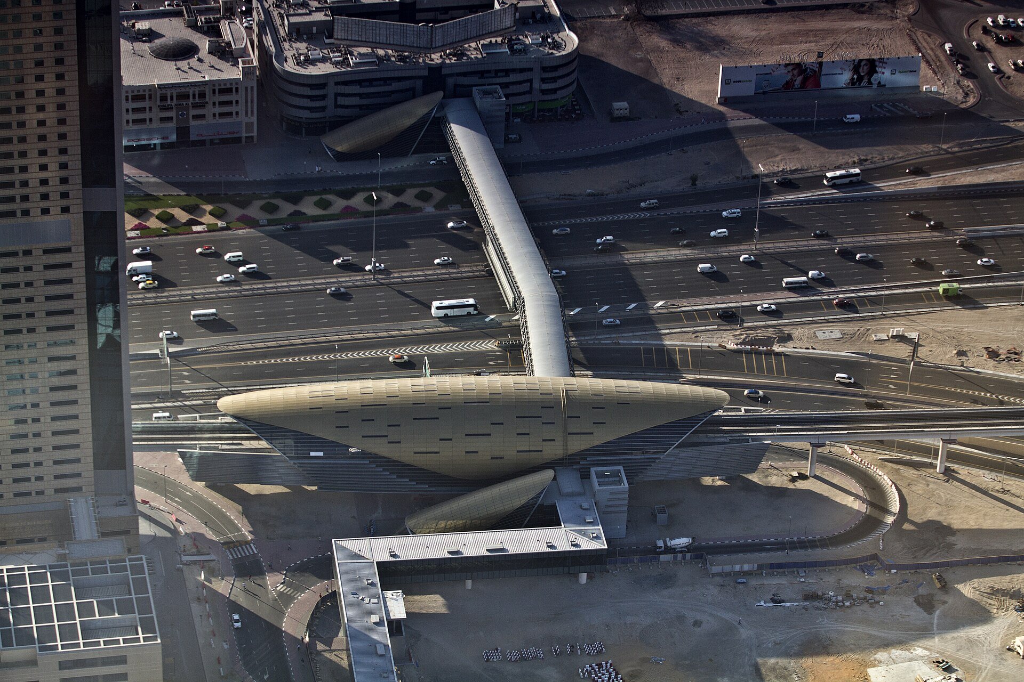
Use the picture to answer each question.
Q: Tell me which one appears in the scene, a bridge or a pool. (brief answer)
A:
bridge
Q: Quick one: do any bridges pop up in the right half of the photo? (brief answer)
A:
Yes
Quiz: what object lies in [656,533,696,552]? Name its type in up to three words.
vehicle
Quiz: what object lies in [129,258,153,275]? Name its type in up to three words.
vehicle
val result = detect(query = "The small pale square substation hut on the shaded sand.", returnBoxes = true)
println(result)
[610,98,629,117]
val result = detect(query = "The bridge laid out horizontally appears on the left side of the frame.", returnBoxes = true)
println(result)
[134,417,268,480]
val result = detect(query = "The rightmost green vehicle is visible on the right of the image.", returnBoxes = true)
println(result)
[937,281,963,297]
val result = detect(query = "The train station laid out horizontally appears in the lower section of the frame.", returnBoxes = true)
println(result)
[176,375,770,505]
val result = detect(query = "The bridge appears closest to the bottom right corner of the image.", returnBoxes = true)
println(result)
[673,405,1024,476]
